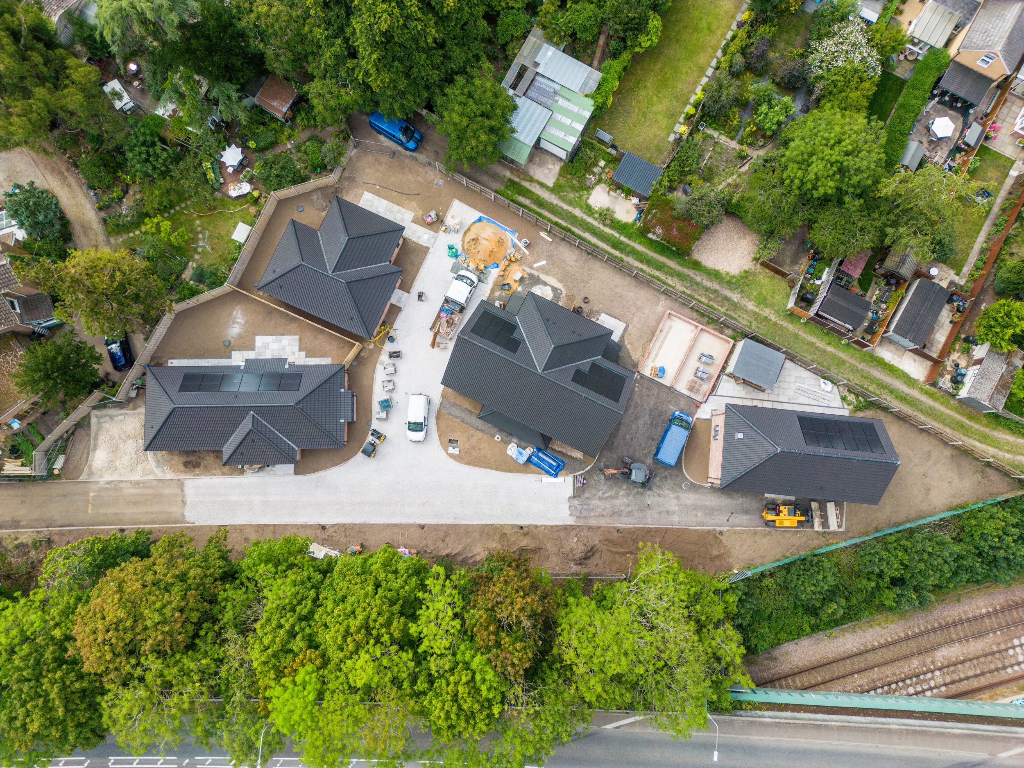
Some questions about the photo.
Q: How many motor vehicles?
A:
8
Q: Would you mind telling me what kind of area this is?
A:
residential area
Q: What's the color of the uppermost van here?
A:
blue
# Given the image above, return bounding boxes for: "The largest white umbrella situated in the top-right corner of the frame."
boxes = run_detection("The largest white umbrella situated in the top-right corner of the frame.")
[926,117,954,141]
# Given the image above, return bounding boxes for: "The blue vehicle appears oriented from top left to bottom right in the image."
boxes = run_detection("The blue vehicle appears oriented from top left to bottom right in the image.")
[368,109,424,157]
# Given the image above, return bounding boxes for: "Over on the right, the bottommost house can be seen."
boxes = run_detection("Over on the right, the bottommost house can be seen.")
[708,403,901,506]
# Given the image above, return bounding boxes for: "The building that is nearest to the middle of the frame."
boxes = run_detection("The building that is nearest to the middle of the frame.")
[441,290,636,459]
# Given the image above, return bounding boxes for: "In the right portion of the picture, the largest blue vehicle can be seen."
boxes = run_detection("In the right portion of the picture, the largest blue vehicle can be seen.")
[651,410,689,469]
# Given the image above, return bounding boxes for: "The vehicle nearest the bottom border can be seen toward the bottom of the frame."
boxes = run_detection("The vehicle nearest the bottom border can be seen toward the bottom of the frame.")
[760,503,815,531]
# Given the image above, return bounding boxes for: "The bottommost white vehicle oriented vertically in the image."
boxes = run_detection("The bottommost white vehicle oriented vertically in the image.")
[405,392,431,443]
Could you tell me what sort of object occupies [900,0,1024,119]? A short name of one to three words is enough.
house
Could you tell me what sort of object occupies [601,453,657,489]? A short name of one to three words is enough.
work vehicle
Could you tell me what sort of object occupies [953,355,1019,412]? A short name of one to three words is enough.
shed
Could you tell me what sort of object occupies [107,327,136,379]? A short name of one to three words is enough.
car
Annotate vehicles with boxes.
[651,410,689,469]
[427,277,474,345]
[405,392,431,443]
[368,109,424,157]
[107,327,136,379]
[601,453,657,489]
[360,425,394,463]
[760,503,815,531]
